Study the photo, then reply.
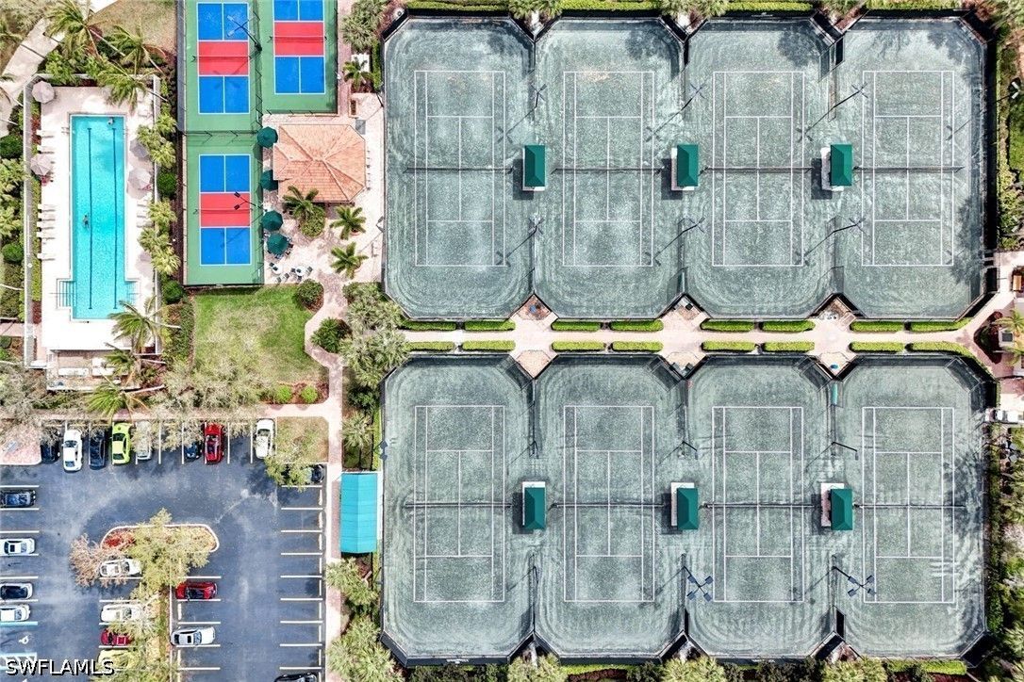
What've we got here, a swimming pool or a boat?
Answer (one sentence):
Looking from above, you can make out a swimming pool.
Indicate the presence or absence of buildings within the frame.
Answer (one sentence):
Yes, a building is visible in the scene.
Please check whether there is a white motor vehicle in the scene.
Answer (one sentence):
Yes, the photo shows a white motor vehicle.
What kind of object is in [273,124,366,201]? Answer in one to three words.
building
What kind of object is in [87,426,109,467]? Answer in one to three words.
car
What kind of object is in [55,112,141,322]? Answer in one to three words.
swimming pool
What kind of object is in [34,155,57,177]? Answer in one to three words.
umbrella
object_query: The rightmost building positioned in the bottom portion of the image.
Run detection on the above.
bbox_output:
[822,484,851,530]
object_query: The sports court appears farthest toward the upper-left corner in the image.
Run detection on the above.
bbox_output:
[185,0,262,131]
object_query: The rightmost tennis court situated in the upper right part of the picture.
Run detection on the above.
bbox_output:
[834,18,984,318]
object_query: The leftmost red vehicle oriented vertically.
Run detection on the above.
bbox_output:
[204,423,224,464]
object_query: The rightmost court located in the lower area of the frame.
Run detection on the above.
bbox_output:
[834,354,984,656]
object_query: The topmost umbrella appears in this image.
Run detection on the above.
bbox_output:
[35,82,57,105]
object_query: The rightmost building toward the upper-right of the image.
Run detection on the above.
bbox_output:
[822,143,851,190]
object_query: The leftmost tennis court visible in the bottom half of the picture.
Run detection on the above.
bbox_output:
[384,354,534,656]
